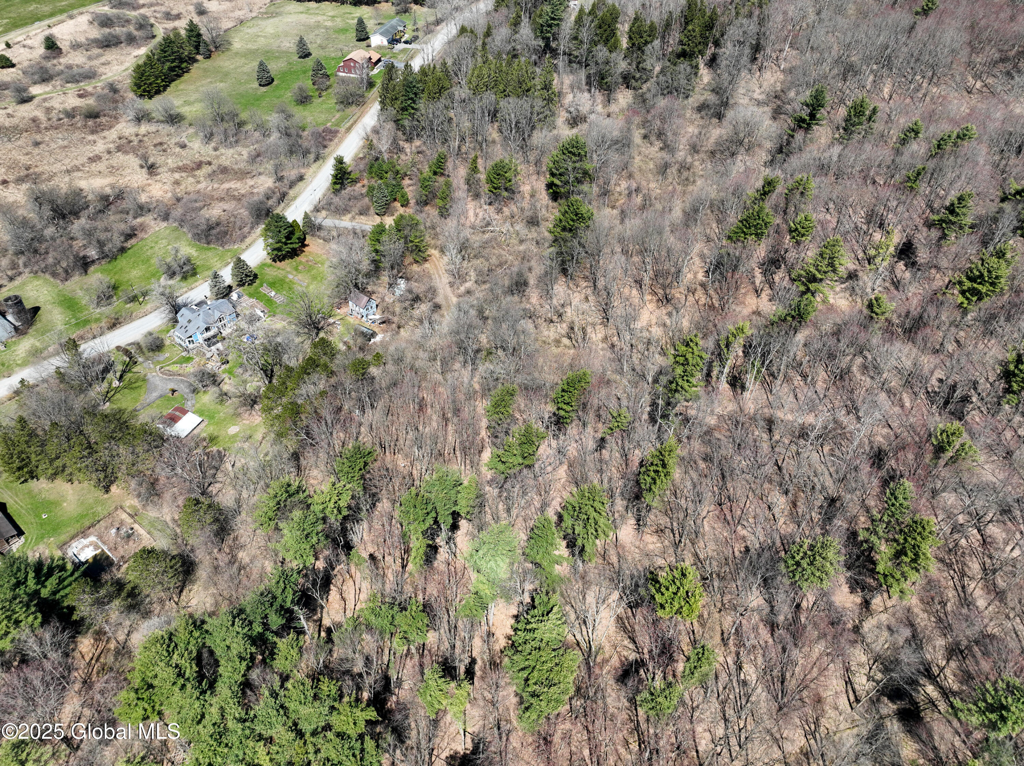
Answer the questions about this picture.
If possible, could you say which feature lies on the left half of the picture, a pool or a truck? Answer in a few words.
pool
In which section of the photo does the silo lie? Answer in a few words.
left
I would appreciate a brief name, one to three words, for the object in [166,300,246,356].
house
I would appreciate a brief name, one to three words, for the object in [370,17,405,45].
house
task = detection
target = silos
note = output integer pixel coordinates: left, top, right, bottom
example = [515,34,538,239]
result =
[0,293,33,332]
